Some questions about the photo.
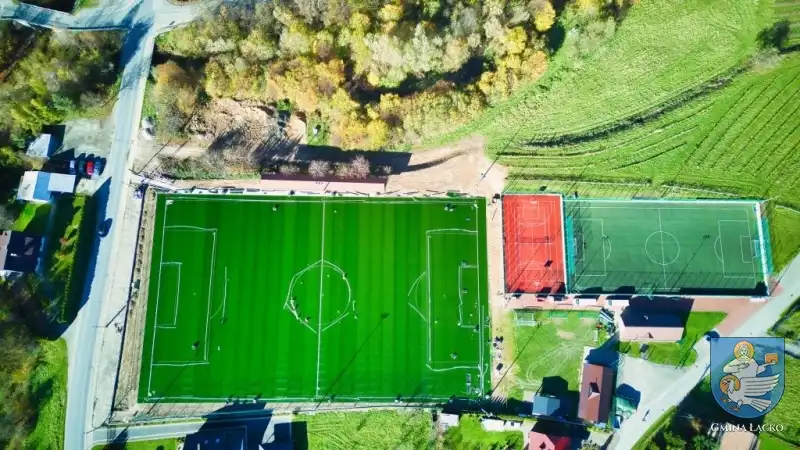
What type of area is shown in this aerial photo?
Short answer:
sports ground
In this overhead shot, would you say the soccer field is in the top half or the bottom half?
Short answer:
bottom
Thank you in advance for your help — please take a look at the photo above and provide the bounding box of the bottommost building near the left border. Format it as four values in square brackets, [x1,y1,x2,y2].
[1,230,48,273]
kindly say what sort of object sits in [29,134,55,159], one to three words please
building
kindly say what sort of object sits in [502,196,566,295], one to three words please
basketball court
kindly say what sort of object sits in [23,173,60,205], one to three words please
house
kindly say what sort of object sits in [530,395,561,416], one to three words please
shed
